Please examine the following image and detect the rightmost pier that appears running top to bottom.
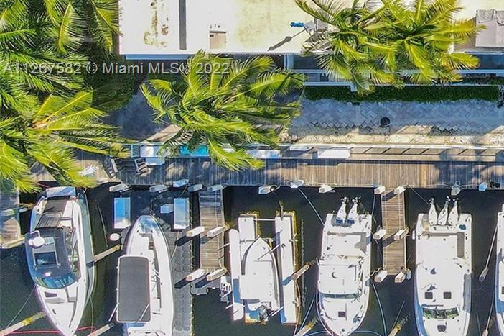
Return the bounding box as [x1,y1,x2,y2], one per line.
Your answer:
[382,189,406,272]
